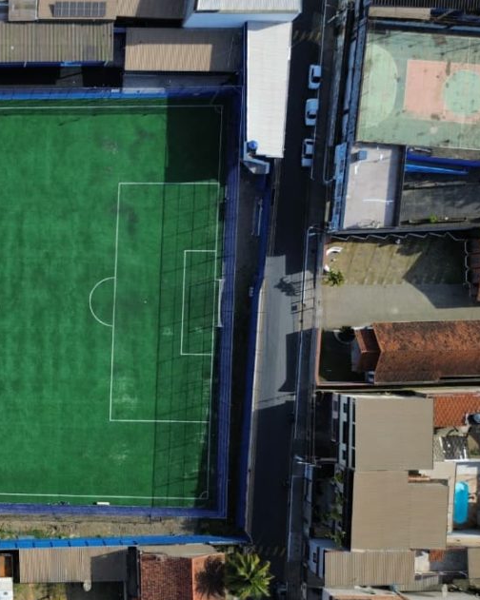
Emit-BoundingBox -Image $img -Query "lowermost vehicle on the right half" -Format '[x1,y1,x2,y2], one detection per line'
[300,137,317,166]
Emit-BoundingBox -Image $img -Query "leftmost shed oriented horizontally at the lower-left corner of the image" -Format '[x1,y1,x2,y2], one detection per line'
[19,548,127,584]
